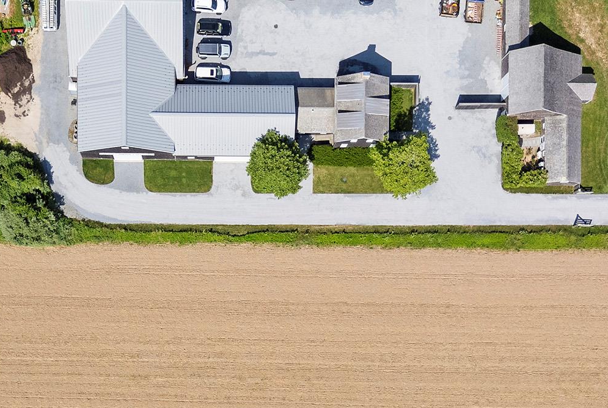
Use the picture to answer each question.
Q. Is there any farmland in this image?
Yes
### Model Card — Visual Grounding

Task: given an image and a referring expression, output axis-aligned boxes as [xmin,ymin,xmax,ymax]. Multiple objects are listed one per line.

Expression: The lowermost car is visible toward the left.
[194,65,231,84]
